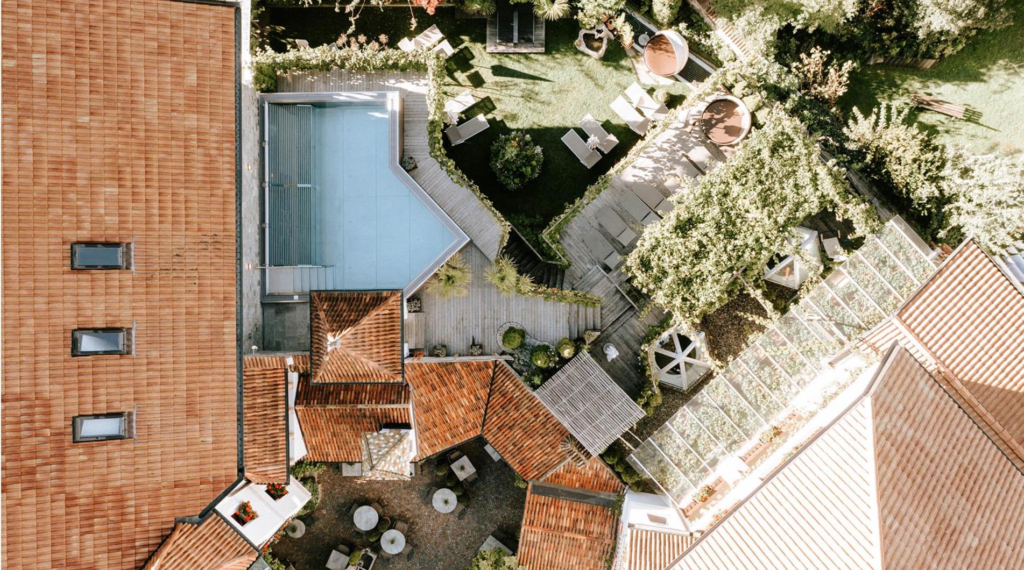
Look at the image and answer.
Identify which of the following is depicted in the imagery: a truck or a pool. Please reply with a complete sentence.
The one in the frame is a pool.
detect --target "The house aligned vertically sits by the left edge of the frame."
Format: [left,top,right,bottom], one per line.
[0,0,245,570]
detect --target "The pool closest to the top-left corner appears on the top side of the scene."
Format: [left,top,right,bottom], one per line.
[257,92,472,302]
